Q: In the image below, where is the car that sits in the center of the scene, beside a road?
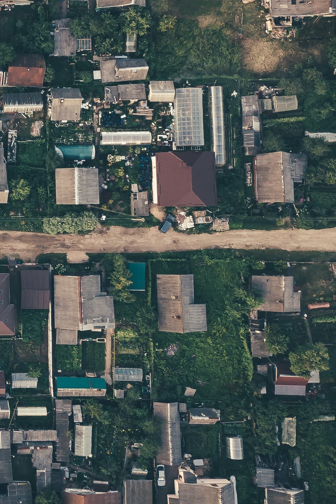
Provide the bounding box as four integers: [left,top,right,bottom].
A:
[158,214,174,234]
